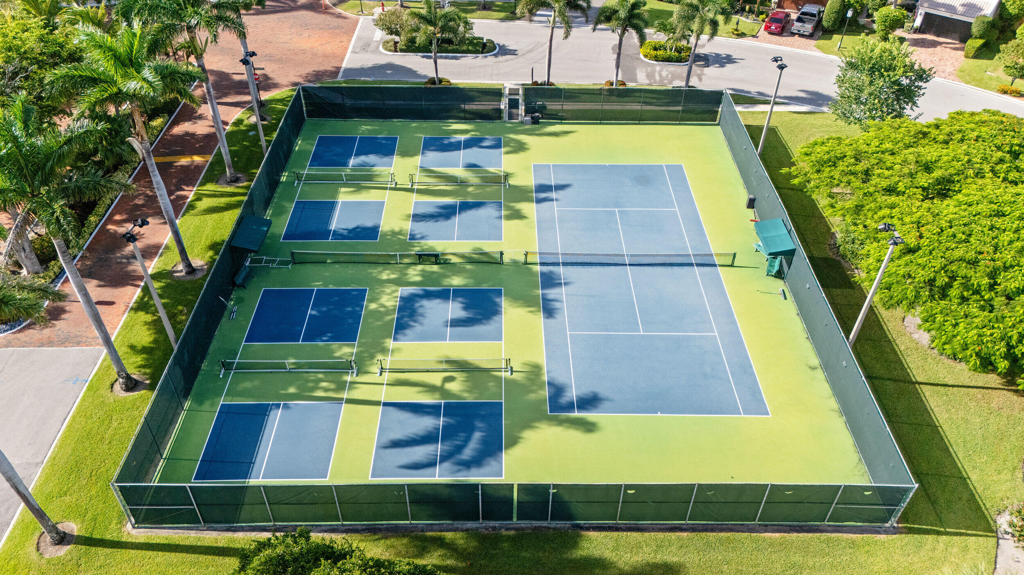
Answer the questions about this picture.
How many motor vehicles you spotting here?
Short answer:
two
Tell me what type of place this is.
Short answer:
sports ground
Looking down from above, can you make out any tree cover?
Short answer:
Yes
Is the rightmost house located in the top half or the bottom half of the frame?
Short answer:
top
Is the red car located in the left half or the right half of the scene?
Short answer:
right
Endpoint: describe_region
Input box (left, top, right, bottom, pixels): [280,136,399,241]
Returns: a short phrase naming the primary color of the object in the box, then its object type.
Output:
blue sports court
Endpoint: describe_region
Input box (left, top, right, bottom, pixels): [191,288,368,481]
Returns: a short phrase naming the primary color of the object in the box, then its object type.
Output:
blue sports court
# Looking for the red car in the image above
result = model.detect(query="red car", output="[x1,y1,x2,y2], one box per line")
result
[765,10,791,32]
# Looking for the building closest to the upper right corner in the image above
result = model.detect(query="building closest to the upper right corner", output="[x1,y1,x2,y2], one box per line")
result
[917,0,1004,42]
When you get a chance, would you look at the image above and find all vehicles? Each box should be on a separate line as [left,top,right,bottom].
[765,10,791,32]
[793,5,826,35]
